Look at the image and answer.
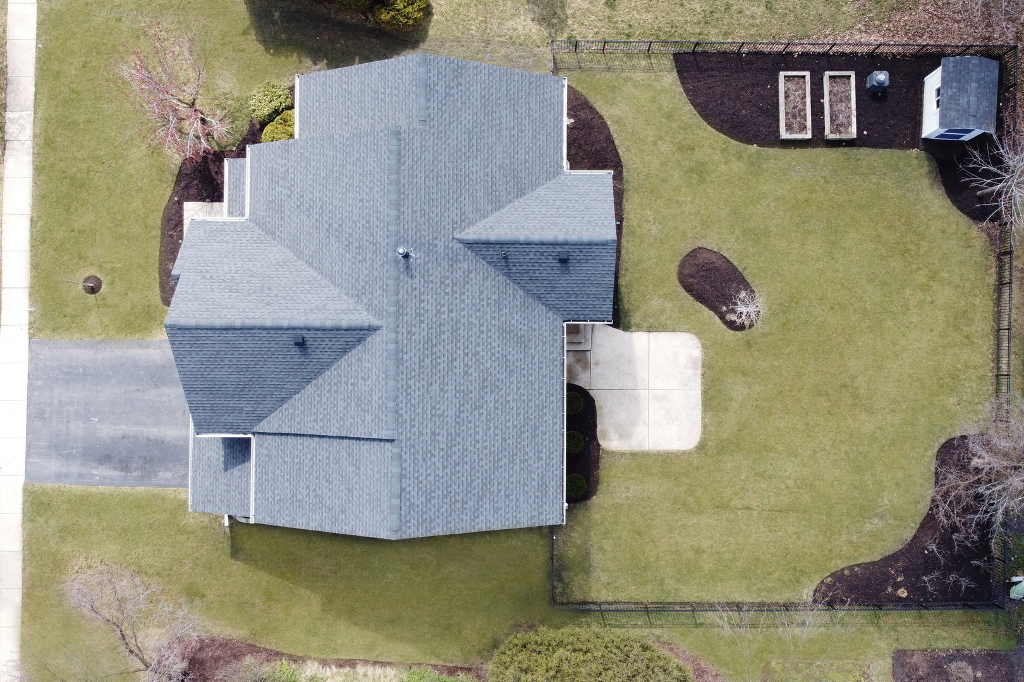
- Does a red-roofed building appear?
No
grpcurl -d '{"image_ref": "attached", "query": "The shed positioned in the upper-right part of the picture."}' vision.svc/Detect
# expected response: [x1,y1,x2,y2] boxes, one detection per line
[922,57,996,140]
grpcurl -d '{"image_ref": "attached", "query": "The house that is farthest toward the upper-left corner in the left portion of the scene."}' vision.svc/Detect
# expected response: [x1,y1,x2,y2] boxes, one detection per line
[166,55,616,539]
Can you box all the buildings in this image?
[922,57,996,140]
[166,55,616,539]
